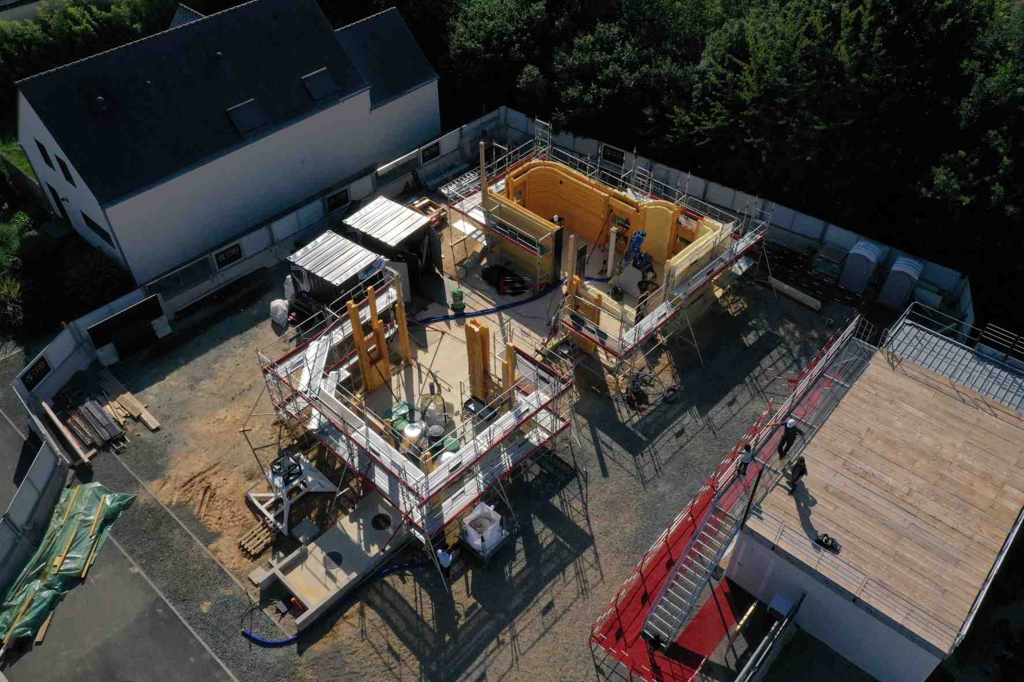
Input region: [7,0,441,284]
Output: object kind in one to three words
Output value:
house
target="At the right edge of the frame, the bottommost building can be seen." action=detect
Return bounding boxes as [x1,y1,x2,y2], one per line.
[731,300,1024,682]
